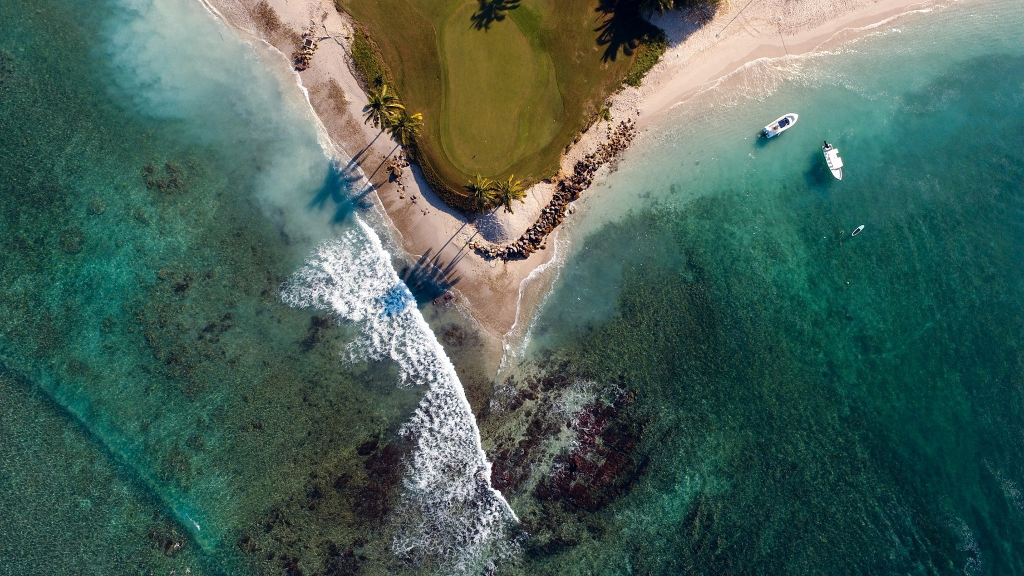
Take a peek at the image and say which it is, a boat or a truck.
boat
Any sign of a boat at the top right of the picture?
Yes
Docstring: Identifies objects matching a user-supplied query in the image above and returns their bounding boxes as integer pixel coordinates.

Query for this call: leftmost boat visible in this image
[762,113,800,139]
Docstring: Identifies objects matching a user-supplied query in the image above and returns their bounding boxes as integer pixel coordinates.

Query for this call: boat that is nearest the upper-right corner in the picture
[821,141,846,180]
